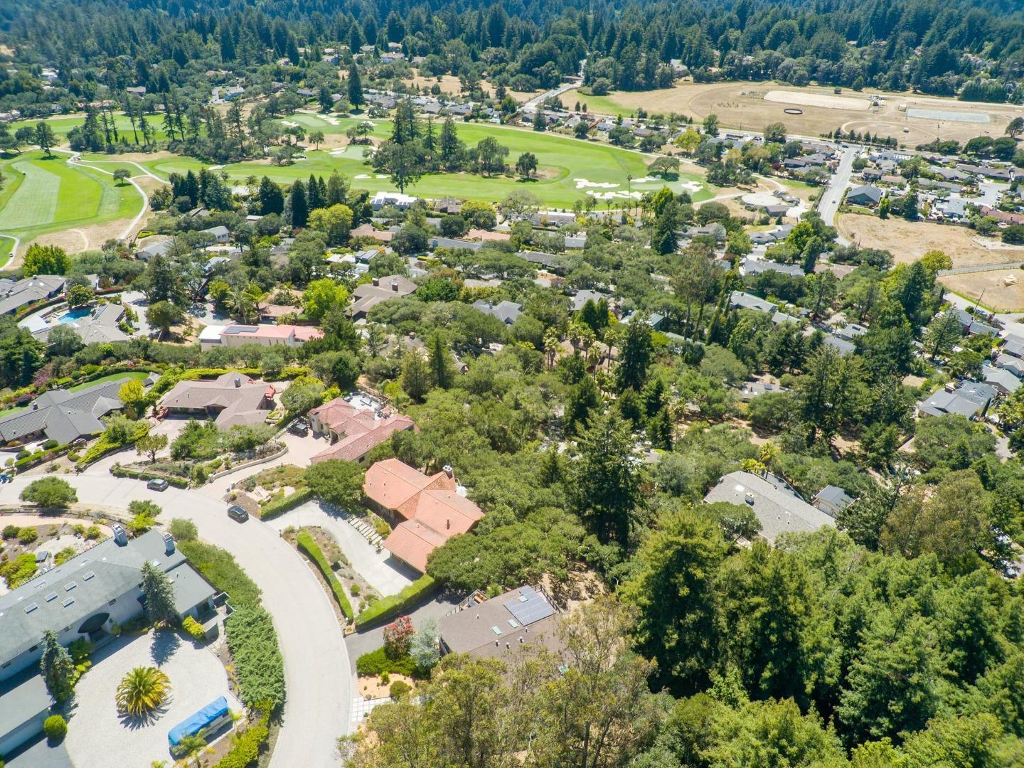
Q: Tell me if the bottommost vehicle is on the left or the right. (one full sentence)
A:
You can find the bottommost vehicle on the left side of the picture.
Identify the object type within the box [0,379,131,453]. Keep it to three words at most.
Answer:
house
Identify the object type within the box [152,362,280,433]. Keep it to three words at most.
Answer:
house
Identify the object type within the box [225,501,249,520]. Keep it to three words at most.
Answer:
car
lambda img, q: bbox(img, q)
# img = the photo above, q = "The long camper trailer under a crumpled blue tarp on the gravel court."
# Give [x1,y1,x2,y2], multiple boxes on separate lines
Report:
[164,693,235,752]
